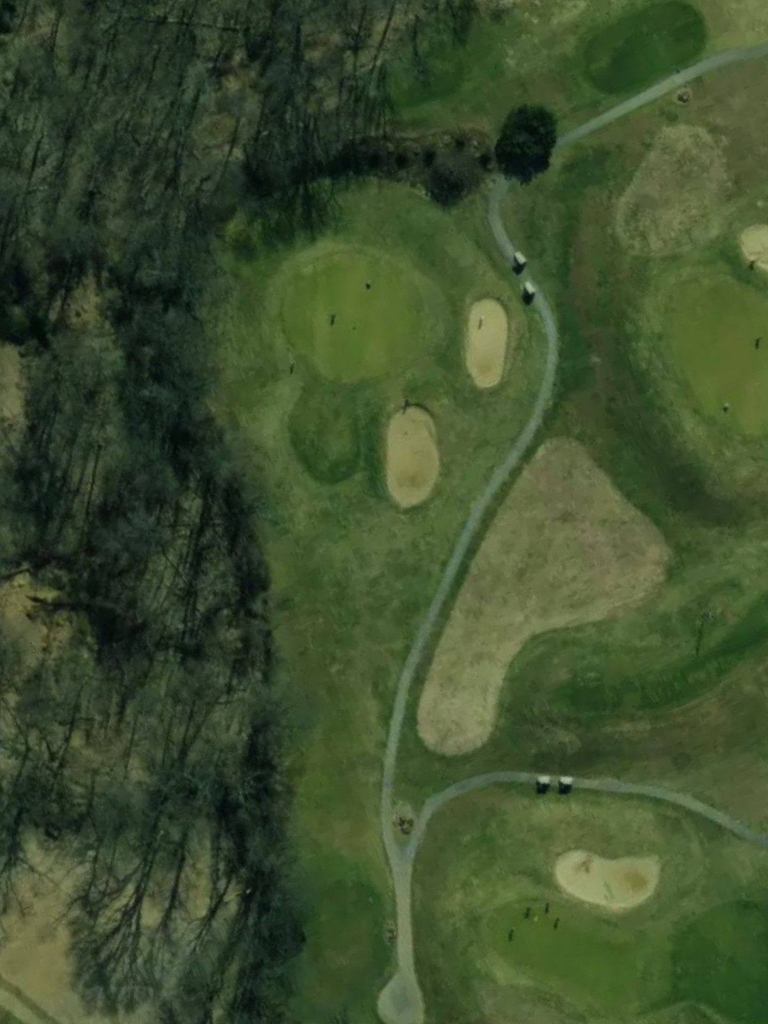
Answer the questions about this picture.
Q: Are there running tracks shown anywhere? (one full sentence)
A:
No, no running track is visible in the view.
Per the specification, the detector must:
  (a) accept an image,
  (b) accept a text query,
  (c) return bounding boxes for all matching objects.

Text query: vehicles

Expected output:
[559,778,575,786]
[522,282,536,299]
[537,777,552,785]
[512,249,526,265]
